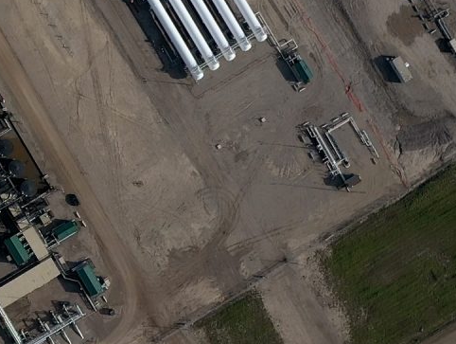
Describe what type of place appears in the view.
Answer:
industrial area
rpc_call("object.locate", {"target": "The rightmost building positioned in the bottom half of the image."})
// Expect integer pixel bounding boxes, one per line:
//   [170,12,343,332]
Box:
[71,261,105,296]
